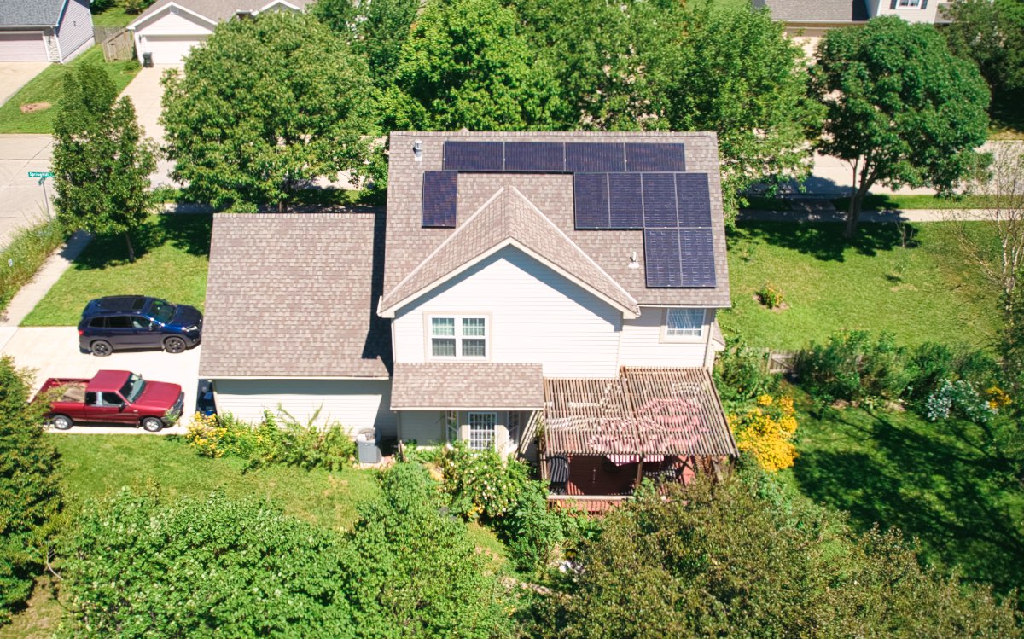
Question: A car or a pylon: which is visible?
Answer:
car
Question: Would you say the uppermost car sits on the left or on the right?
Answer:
left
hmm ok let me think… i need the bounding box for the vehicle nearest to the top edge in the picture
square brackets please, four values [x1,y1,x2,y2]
[78,294,205,354]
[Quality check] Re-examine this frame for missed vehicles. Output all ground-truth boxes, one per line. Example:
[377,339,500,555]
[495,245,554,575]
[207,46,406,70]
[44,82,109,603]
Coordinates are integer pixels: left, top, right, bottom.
[78,294,205,354]
[27,366,190,428]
